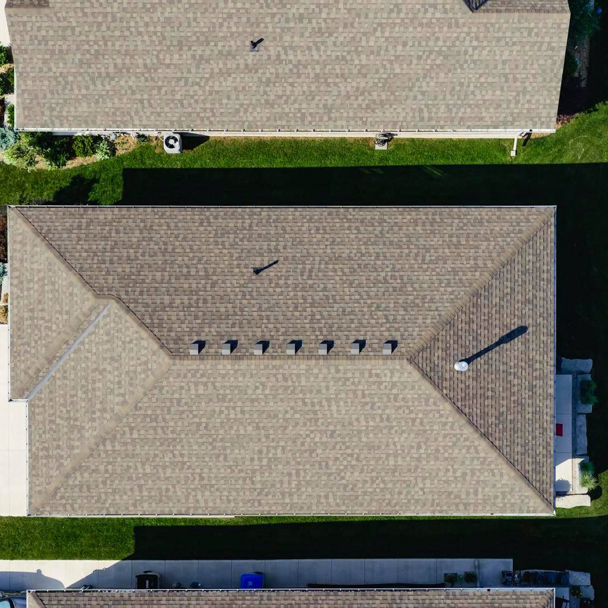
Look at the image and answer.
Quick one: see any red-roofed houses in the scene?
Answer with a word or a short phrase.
No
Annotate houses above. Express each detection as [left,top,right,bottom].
[4,0,572,153]
[28,585,556,608]
[10,208,556,515]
